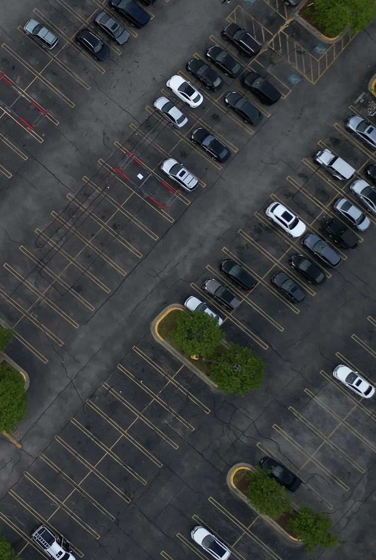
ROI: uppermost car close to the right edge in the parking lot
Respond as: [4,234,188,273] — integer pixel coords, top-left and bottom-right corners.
[345,117,376,150]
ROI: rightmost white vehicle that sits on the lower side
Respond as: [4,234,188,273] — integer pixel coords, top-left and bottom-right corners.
[333,364,376,400]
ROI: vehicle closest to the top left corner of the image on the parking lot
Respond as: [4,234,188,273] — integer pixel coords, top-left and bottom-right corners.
[22,18,61,51]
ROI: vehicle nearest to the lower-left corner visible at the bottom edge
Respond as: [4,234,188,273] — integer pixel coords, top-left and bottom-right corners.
[32,527,75,560]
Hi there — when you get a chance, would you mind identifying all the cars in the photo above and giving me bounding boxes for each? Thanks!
[190,526,231,560]
[93,9,131,45]
[364,162,376,182]
[345,117,376,150]
[185,58,225,93]
[182,293,224,319]
[32,527,75,560]
[151,96,191,130]
[110,0,151,28]
[223,92,265,127]
[219,257,259,293]
[350,182,376,214]
[332,195,371,231]
[314,147,358,182]
[204,45,246,79]
[288,252,330,288]
[22,18,61,51]
[260,456,301,494]
[75,26,114,62]
[333,364,376,400]
[266,203,305,238]
[165,75,206,109]
[159,158,200,192]
[221,23,262,58]
[267,270,308,305]
[300,234,343,269]
[239,69,285,107]
[191,128,232,163]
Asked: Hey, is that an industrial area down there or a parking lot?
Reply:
parking lot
